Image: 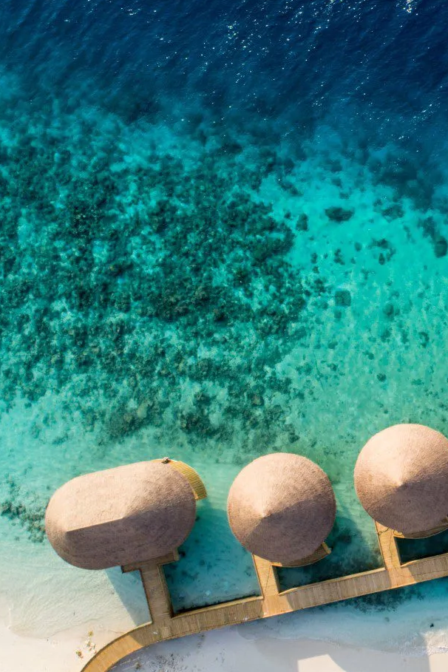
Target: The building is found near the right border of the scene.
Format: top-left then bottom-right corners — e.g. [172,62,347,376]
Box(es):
[354,423,448,572]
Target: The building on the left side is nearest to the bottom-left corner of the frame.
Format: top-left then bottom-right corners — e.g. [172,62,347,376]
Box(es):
[45,457,209,624]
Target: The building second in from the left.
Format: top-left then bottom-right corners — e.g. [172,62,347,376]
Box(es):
[227,453,337,599]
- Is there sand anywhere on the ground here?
Yes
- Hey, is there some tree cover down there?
No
